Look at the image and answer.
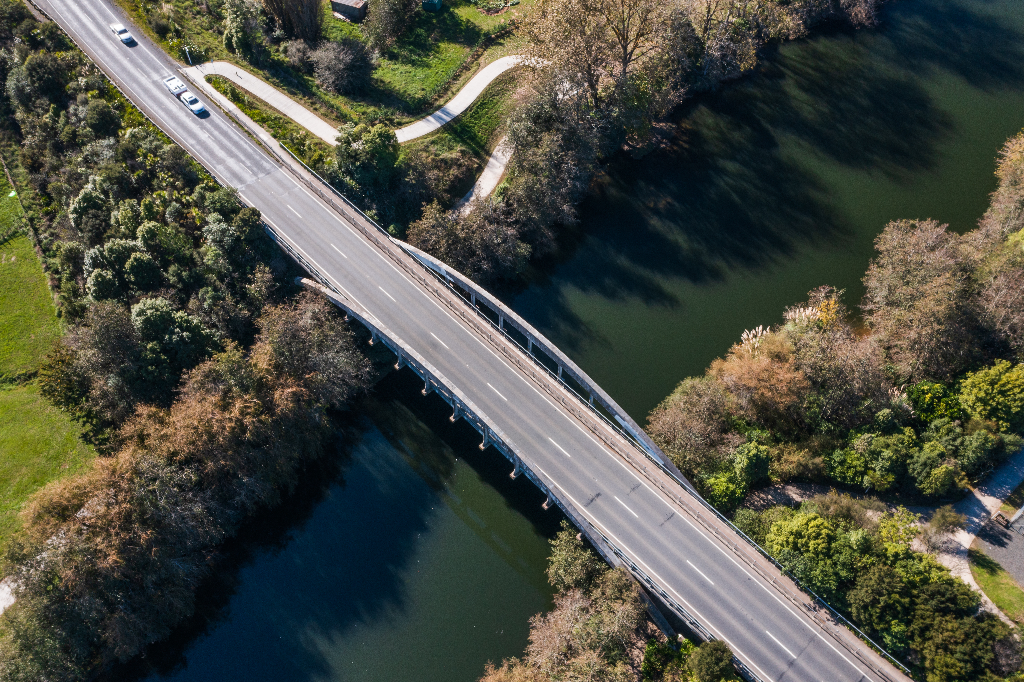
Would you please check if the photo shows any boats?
No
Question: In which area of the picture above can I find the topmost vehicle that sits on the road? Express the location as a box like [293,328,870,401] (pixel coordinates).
[107,22,133,45]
